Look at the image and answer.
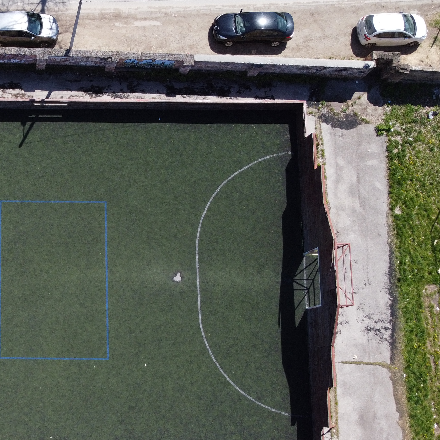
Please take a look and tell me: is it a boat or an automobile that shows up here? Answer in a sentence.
There is an automobile in the scene.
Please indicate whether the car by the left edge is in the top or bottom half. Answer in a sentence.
Seen from above, the car by the left edge lies in the top half of the view.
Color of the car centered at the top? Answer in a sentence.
The car centered at the top is black.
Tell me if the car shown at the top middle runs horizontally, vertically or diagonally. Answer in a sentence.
What the image shows is the car shown at the top middle lying horizontally.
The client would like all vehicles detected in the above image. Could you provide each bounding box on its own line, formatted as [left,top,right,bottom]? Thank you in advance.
[355,8,426,47]
[212,7,295,47]
[0,9,56,48]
